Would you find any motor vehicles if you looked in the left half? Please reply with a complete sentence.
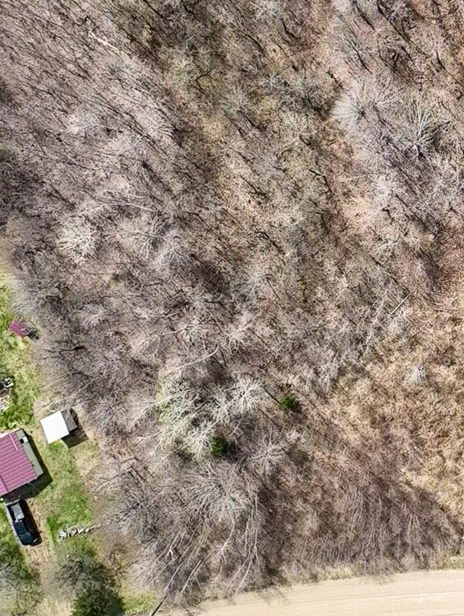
Yes, there is a motor vehicle in the left half.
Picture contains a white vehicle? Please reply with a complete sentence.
No, the photo shows no white vehicle.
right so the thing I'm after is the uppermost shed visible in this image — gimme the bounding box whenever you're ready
[9,320,36,339]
